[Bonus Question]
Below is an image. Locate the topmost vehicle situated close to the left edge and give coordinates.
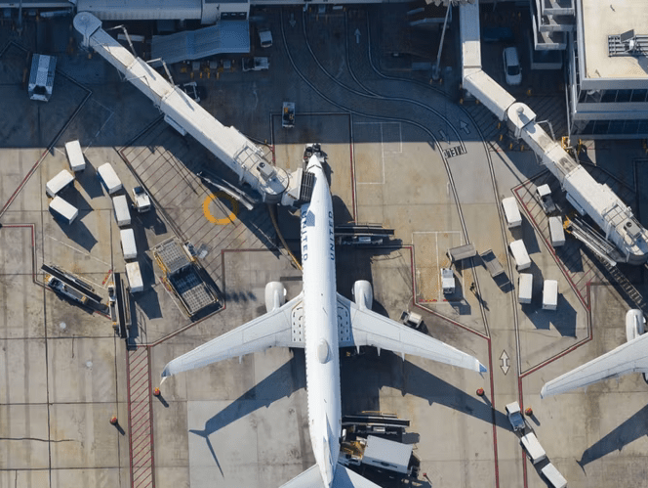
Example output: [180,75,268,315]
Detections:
[28,51,55,103]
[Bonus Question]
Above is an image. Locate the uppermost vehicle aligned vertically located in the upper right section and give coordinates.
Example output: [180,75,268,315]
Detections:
[501,47,523,88]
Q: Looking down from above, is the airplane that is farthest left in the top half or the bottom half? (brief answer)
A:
bottom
